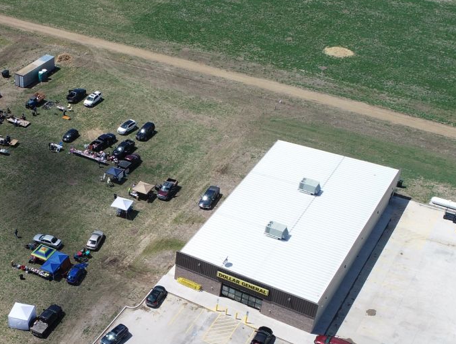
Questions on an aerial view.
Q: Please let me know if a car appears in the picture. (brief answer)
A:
Yes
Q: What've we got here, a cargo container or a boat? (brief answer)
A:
cargo container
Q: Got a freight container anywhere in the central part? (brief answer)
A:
No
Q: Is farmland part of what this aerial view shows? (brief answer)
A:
Yes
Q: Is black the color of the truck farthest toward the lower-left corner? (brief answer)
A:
Yes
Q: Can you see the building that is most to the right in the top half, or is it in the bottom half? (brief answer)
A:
bottom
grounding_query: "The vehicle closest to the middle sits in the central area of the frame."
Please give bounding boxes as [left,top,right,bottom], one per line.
[201,186,221,209]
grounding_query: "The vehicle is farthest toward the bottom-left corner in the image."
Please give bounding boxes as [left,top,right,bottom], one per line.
[29,304,64,338]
